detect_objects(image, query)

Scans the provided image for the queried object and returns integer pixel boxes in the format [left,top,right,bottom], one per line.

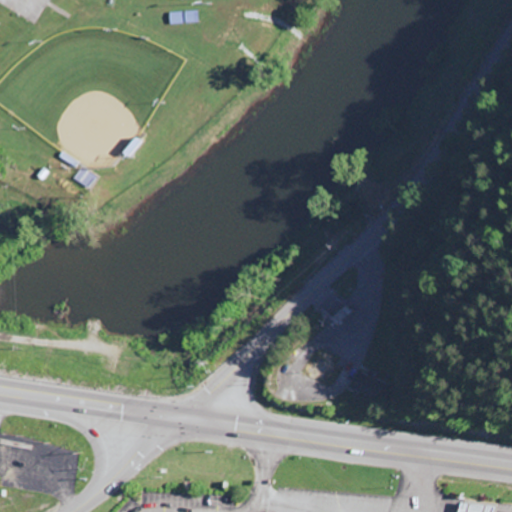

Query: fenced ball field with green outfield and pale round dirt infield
[0,28,186,169]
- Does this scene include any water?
Yes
